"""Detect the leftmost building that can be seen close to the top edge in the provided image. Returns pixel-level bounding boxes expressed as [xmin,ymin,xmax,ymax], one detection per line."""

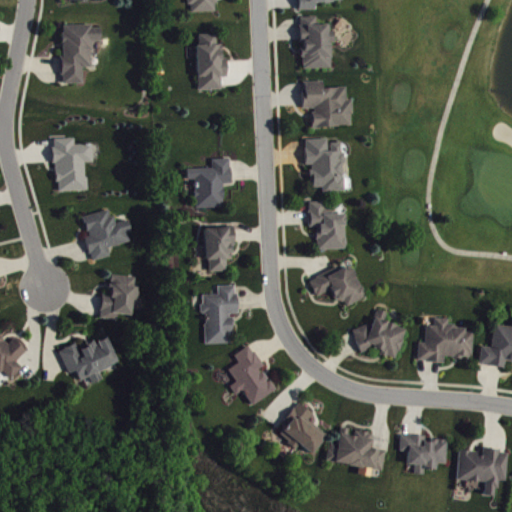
[61,24,102,82]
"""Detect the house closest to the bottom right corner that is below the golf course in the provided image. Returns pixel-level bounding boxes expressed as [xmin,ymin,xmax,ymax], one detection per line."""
[459,448,509,497]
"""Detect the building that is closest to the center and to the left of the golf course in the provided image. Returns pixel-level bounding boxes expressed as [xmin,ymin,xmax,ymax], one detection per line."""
[204,228,236,272]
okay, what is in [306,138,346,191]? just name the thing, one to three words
house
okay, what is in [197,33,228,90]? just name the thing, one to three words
house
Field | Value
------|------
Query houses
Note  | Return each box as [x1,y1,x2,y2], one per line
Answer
[350,310,410,358]
[58,334,118,386]
[0,334,28,382]
[300,15,336,68]
[202,285,238,344]
[400,436,448,476]
[459,448,509,497]
[280,401,328,457]
[418,318,474,363]
[61,24,102,82]
[100,275,140,318]
[229,346,276,408]
[204,228,236,272]
[82,210,132,258]
[188,158,232,208]
[309,202,347,250]
[309,264,366,308]
[303,80,354,128]
[197,33,228,90]
[299,0,340,9]
[188,0,218,12]
[306,138,346,191]
[336,427,386,470]
[52,138,94,192]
